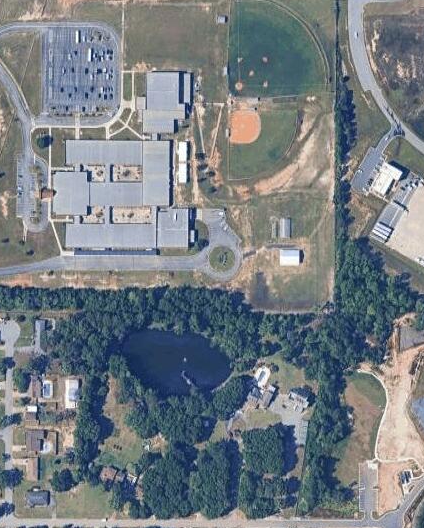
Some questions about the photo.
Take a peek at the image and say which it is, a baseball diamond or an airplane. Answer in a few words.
baseball diamond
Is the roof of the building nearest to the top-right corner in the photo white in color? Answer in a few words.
Yes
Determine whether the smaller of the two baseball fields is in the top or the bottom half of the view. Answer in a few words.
top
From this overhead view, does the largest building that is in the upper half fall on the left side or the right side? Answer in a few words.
left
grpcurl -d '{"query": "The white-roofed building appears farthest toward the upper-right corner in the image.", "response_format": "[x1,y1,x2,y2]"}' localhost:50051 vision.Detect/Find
[369,162,403,196]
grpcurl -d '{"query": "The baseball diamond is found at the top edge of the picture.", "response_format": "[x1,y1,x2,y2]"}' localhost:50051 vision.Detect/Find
[226,0,329,103]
